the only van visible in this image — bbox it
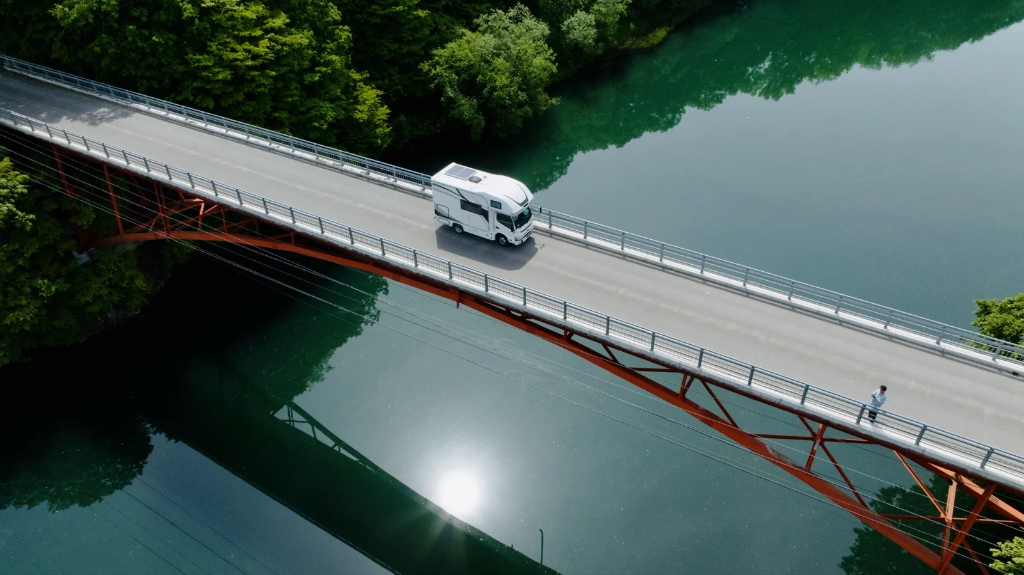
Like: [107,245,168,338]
[433,163,540,246]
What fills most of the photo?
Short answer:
water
